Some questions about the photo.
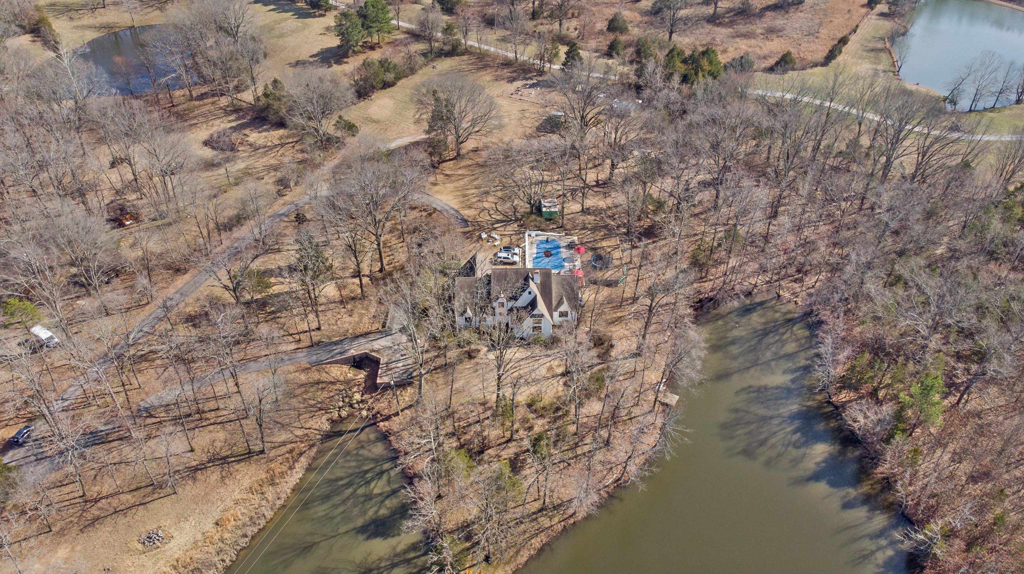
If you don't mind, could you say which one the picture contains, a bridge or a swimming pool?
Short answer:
swimming pool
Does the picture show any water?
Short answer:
Yes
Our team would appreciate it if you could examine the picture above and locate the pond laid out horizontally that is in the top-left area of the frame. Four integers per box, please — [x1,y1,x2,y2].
[58,24,208,99]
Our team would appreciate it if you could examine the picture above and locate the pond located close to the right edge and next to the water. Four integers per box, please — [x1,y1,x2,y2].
[893,0,1024,111]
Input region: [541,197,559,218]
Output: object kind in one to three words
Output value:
shed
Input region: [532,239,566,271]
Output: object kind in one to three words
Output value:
swimming pool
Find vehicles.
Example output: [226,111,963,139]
[498,253,519,264]
[498,244,520,255]
[27,325,58,348]
[4,422,37,448]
